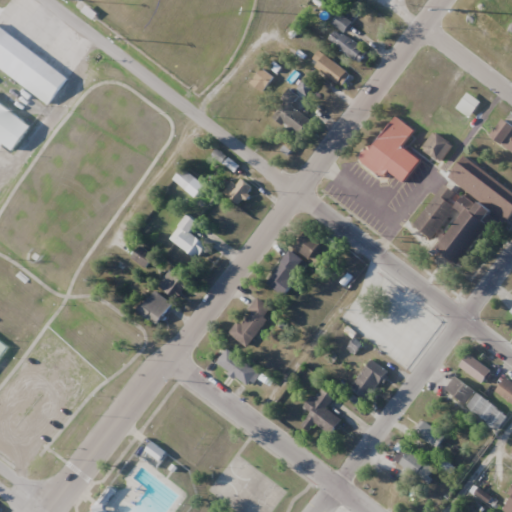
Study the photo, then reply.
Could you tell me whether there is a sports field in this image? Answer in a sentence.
Yes, a sports field appears in the view.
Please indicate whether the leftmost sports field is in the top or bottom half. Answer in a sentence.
The leftmost sports field is in the bottom half of the image.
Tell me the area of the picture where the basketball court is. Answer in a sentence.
Look in the bottom portion of the view to spot the basketball court.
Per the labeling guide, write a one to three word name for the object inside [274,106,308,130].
house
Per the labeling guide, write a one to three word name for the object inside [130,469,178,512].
swimming pool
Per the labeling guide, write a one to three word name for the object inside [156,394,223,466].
sports field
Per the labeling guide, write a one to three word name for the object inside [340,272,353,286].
vehicle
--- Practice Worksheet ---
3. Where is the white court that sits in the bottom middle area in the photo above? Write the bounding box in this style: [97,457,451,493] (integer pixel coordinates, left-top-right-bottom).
[210,456,288,512]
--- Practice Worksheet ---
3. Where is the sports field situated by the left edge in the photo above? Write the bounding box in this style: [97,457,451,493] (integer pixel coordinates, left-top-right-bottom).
[0,330,104,462]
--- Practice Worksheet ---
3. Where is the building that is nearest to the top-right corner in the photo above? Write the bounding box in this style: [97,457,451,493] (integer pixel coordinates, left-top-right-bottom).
[455,92,480,117]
